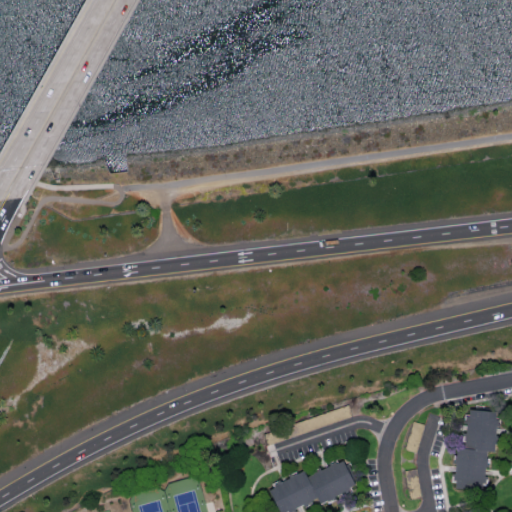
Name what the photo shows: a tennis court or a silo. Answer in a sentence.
Of the two, only a tennis court appears.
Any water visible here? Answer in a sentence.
Yes, water shows up in the scene.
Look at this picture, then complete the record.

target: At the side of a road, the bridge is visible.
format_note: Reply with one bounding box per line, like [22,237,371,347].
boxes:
[0,0,142,204]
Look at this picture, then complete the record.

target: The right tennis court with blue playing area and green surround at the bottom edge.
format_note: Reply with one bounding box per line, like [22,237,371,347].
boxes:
[166,479,206,512]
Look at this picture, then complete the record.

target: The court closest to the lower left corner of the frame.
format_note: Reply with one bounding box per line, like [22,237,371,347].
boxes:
[131,490,169,512]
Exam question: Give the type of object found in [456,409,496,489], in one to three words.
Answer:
house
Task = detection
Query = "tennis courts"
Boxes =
[131,490,169,512]
[166,479,206,512]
